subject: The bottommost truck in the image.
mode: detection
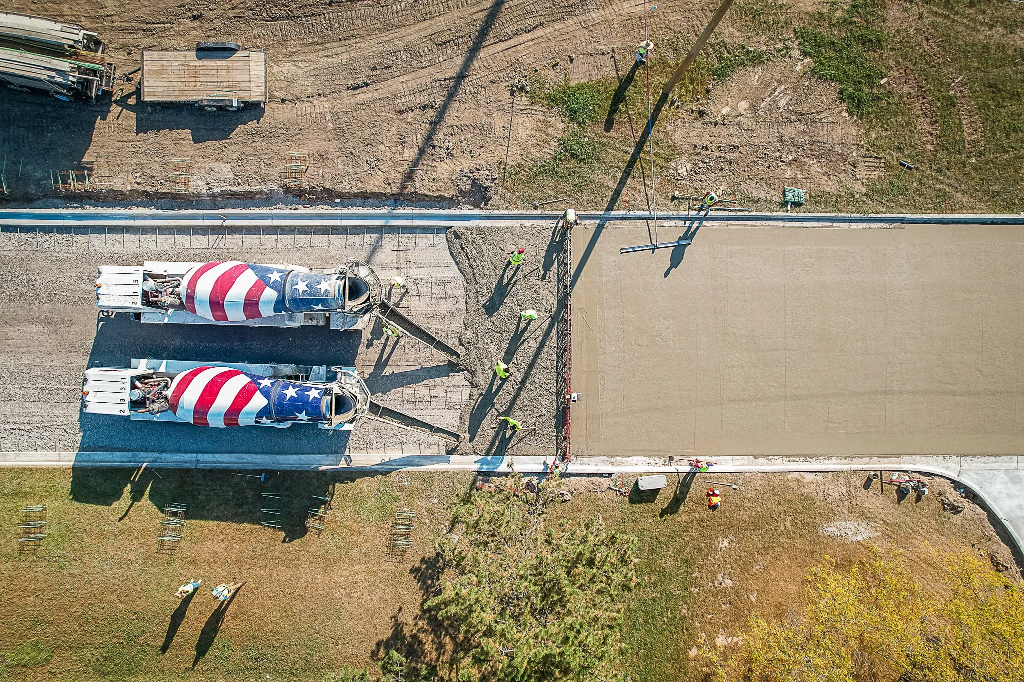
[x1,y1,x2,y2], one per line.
[83,356,464,449]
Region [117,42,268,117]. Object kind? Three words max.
trailer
